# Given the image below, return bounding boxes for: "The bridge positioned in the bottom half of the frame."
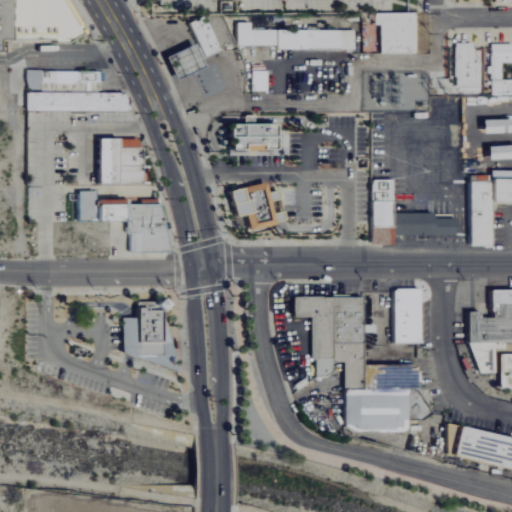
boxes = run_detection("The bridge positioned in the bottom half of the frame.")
[190,427,240,512]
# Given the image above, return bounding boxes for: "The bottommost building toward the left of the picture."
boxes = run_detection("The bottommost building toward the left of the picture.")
[120,302,165,356]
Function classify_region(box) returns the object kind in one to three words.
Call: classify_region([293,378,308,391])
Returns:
vehicle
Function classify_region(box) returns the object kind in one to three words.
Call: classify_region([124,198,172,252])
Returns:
building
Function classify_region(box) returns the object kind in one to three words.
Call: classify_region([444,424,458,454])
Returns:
shed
